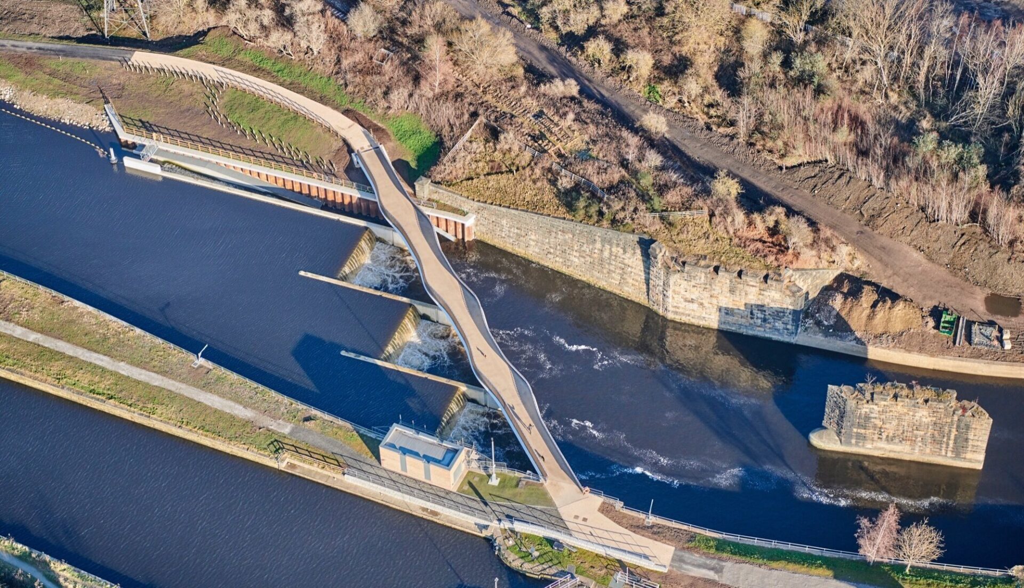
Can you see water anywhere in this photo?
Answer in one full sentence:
Yes, some water is visible.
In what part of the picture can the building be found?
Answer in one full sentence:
You can find the building in the bottom area of the picture.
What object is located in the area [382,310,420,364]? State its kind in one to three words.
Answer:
dam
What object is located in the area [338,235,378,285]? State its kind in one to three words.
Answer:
dam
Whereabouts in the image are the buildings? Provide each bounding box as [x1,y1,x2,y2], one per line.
[379,417,474,493]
